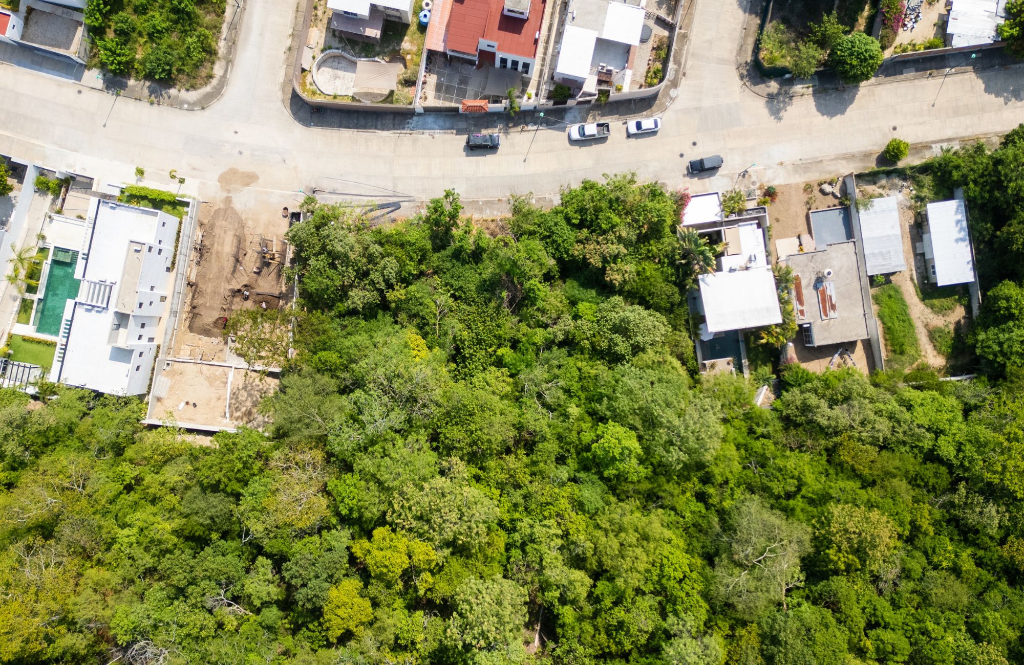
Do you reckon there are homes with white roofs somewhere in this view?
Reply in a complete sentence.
Yes, there's a home with a white roof here.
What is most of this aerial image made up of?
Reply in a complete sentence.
The bulk of the photo consists of trees.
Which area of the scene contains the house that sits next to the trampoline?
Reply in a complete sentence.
The house that sits next to the trampoline is located in the top region of the scene.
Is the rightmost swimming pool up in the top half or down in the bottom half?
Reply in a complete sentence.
The rightmost swimming pool sits in the top half of the picture.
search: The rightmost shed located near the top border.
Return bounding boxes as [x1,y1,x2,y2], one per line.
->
[936,0,1009,48]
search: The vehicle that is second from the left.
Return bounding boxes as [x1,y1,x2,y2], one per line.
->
[569,122,610,141]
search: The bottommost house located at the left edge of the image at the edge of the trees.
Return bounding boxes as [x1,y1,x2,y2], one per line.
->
[49,199,180,395]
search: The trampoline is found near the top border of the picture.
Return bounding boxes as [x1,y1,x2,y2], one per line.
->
[639,24,655,43]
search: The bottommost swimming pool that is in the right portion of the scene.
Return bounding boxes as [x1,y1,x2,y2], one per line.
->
[700,328,752,382]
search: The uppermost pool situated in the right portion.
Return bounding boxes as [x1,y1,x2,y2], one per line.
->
[810,205,858,247]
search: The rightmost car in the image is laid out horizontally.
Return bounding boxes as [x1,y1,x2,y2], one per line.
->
[688,154,725,175]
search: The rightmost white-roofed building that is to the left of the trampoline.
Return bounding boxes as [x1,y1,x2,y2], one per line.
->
[554,0,646,99]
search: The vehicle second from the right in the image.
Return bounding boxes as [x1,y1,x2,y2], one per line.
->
[627,118,661,135]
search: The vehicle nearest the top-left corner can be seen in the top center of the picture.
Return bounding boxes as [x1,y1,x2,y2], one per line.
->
[464,132,499,150]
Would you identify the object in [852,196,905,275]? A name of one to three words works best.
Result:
house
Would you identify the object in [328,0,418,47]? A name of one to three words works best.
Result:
house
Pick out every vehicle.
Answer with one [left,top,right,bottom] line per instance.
[464,132,499,150]
[627,118,661,135]
[688,154,725,175]
[569,122,610,141]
